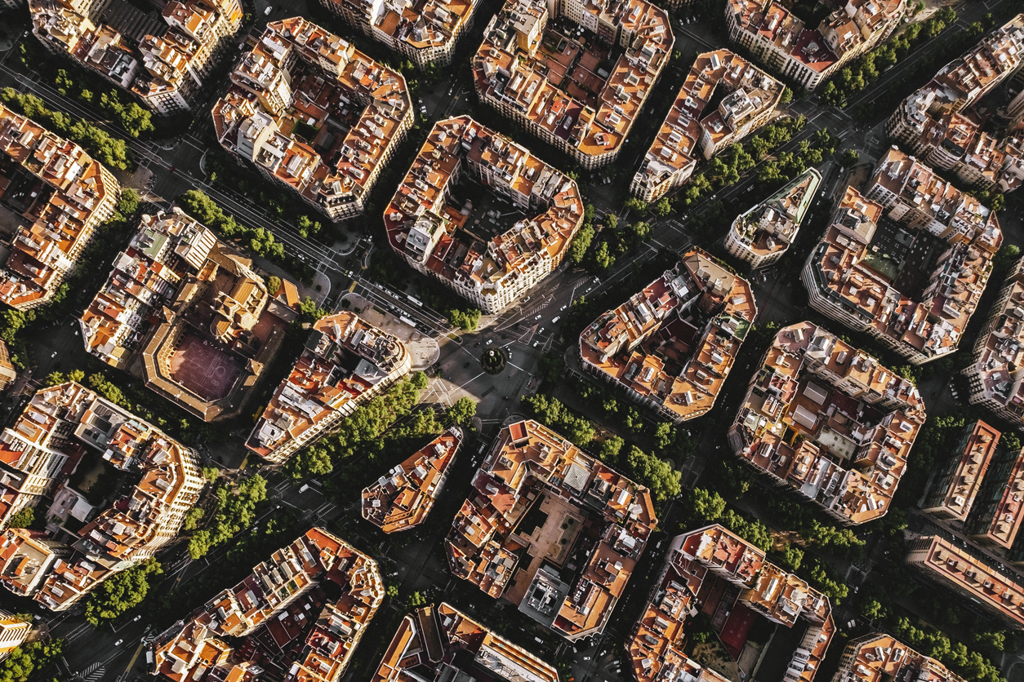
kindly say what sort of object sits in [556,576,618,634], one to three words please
house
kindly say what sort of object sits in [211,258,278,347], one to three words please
building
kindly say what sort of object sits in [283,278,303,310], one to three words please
house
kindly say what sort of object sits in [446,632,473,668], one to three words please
building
